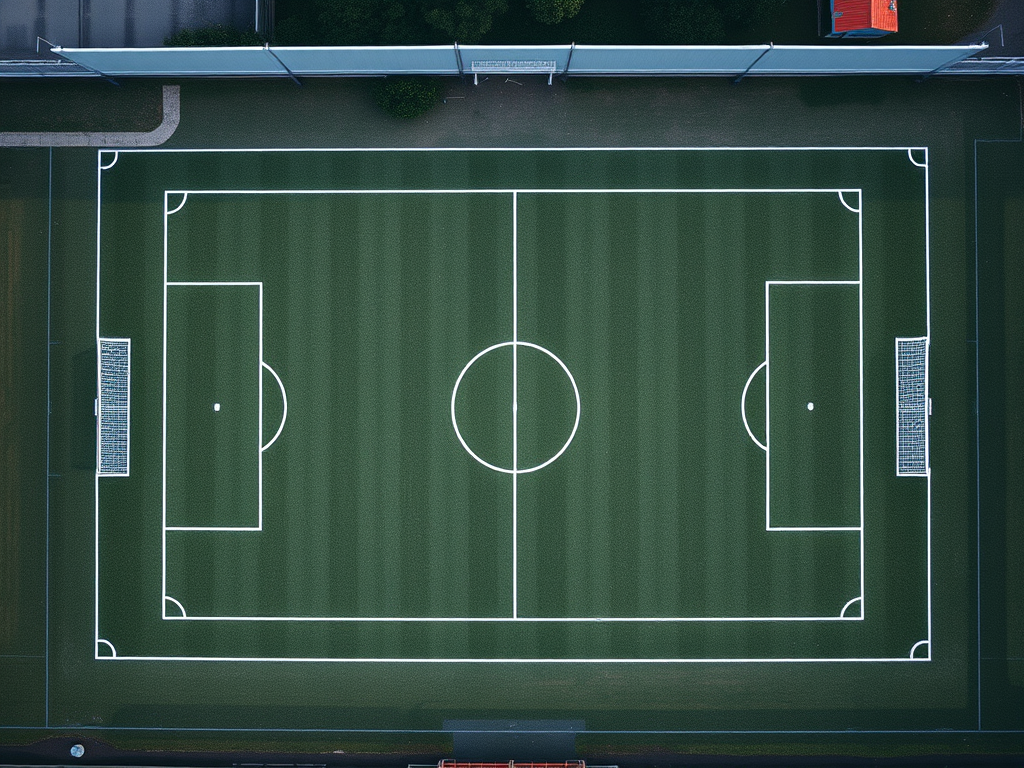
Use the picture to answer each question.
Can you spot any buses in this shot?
No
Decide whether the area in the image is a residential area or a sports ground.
sports ground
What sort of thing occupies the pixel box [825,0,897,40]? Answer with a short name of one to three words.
shed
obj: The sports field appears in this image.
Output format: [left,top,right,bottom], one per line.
[163,188,864,621]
